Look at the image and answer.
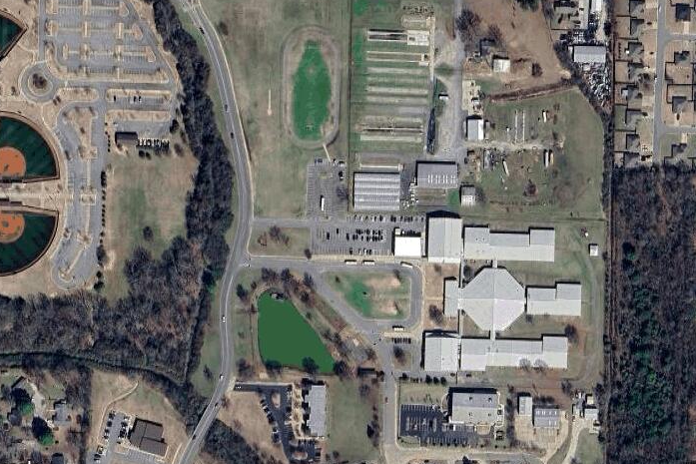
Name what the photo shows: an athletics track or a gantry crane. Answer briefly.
athletics track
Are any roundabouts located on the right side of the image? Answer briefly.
No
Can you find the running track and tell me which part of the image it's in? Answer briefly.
top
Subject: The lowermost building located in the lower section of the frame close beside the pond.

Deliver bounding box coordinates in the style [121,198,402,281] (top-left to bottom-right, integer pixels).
[305,385,326,436]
